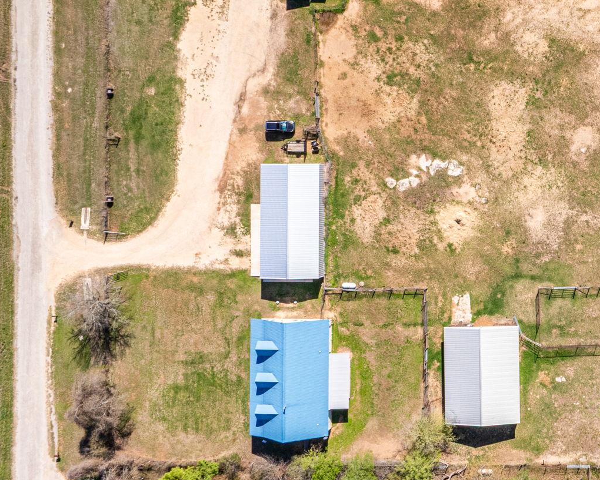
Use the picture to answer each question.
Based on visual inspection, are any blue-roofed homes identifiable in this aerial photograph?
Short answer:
Yes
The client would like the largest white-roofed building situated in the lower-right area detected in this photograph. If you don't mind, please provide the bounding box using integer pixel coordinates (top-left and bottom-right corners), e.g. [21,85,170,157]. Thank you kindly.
[445,325,520,427]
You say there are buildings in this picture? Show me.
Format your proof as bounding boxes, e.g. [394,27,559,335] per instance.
[445,325,520,427]
[260,162,325,281]
[248,316,349,442]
